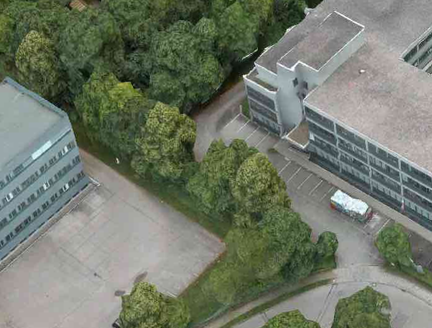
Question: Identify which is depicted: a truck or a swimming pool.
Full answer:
Visible in the photo is a truck.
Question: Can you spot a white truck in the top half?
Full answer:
No, in the top half there is no white truck.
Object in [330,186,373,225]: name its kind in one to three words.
truck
